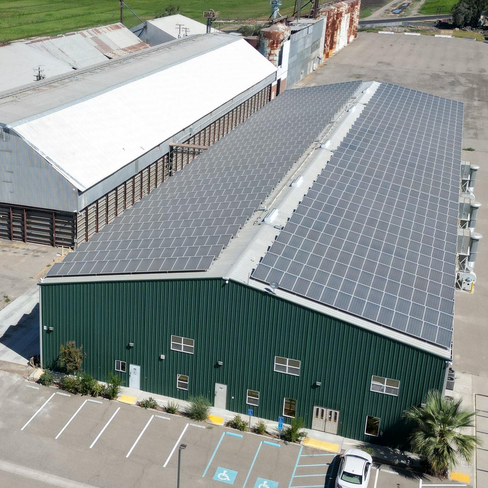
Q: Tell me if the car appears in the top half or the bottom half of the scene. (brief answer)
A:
bottom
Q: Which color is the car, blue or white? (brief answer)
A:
white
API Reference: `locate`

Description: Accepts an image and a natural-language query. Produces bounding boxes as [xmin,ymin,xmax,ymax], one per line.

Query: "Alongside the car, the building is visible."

[31,79,464,452]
